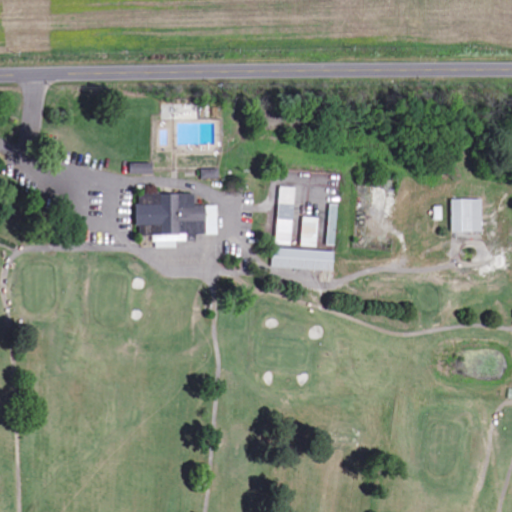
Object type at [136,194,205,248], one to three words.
building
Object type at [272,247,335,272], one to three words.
shed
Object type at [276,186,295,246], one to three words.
shed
